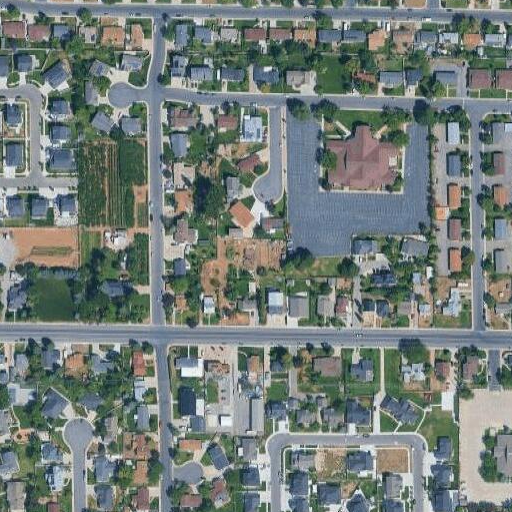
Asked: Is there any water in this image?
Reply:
No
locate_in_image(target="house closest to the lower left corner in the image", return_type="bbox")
[7,482,25,511]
